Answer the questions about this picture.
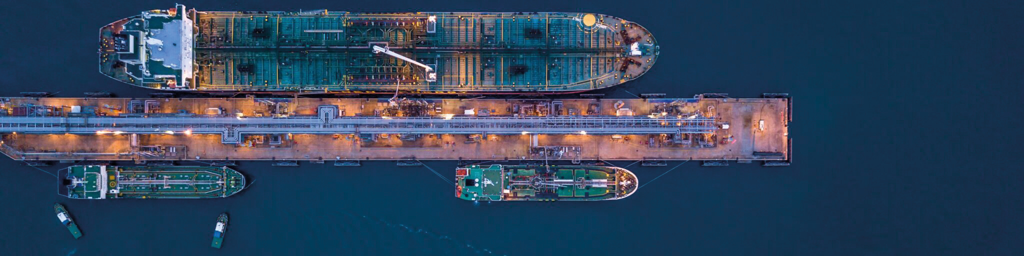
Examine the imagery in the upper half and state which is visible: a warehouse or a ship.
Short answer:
ship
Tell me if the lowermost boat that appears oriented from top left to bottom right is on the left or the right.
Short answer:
left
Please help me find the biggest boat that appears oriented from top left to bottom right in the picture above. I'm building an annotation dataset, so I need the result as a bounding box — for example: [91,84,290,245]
[53,202,83,240]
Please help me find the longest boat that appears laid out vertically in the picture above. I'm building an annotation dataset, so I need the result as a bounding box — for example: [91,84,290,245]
[210,212,227,250]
